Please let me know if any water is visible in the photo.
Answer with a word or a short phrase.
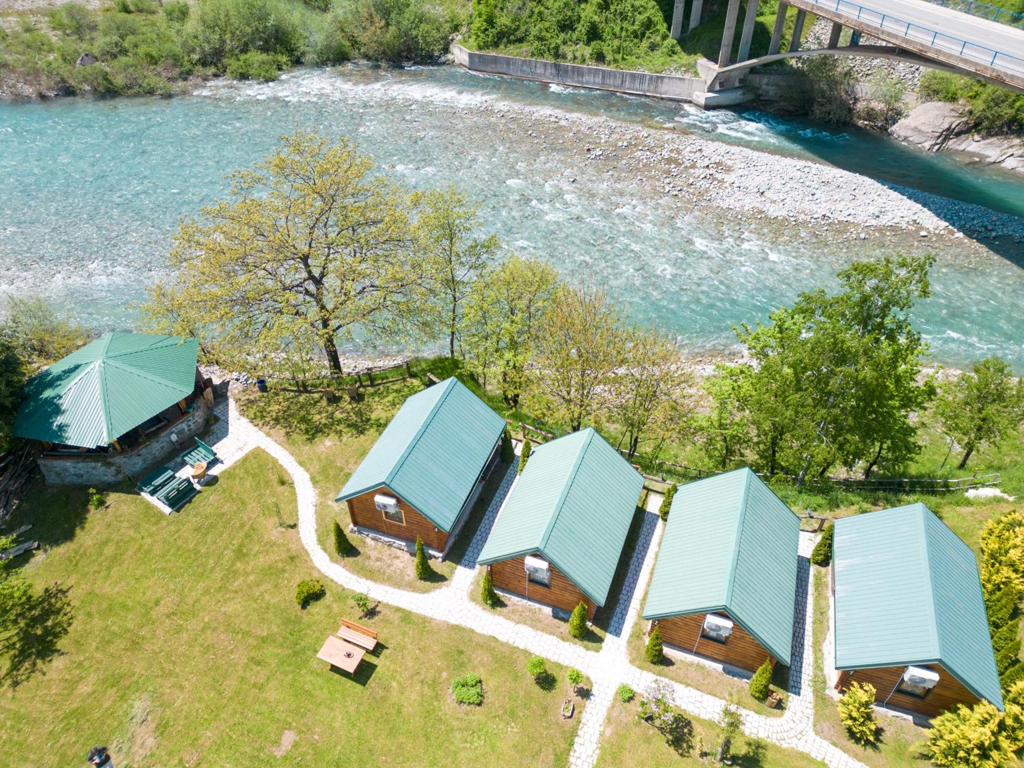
Yes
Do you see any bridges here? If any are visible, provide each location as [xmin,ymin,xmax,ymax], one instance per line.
[681,0,1024,114]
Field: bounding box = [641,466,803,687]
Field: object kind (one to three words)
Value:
building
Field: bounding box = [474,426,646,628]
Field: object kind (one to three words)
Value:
building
